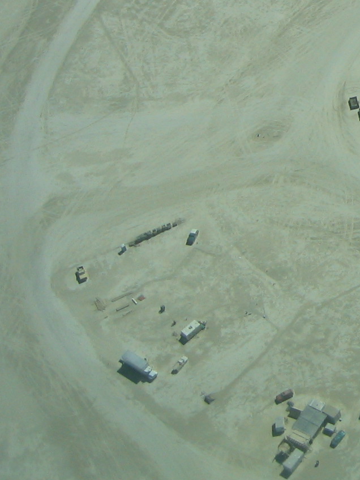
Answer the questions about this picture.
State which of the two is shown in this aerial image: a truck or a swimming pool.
truck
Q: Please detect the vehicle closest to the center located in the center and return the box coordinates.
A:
[187,230,199,246]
